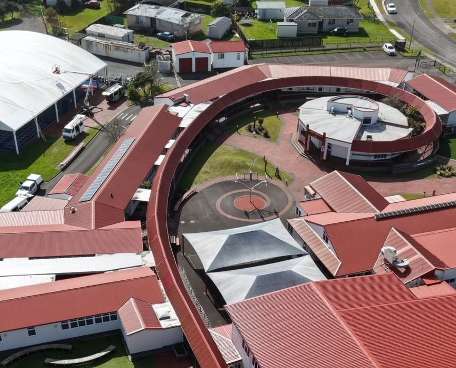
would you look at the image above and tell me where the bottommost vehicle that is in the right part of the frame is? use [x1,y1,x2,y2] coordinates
[383,40,397,53]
